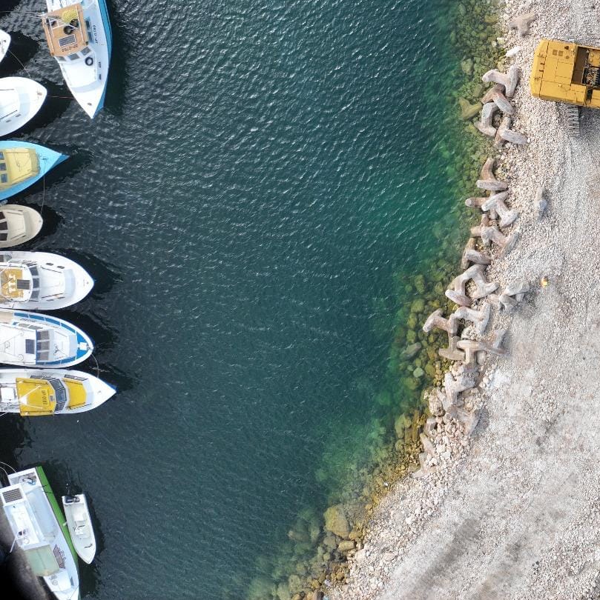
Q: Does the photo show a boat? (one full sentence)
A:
Yes, a boat can be made out from above.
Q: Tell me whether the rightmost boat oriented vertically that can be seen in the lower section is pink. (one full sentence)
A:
No, from above the rightmost boat oriented vertically that can be seen in the lower section looks white.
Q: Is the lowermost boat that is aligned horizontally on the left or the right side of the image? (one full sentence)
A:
The lowermost boat that is aligned horizontally is on the left side of the image.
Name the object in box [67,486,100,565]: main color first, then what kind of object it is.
white boat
